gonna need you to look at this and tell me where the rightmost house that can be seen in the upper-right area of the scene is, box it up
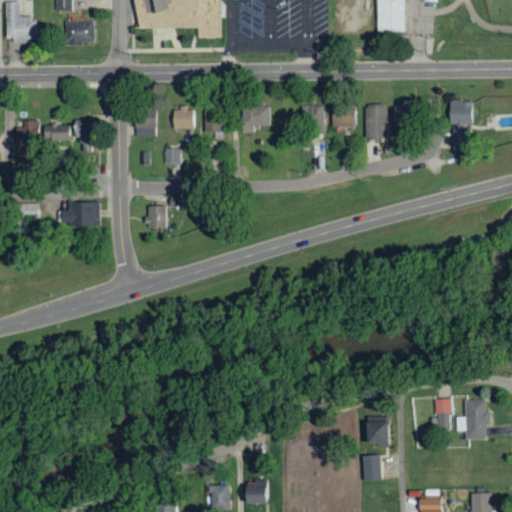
[449,100,473,127]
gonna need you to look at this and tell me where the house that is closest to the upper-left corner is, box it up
[6,1,38,41]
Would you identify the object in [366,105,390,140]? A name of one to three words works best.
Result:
house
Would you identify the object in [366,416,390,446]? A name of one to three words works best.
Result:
house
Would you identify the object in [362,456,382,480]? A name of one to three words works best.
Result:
building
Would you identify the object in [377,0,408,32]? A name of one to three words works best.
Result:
building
